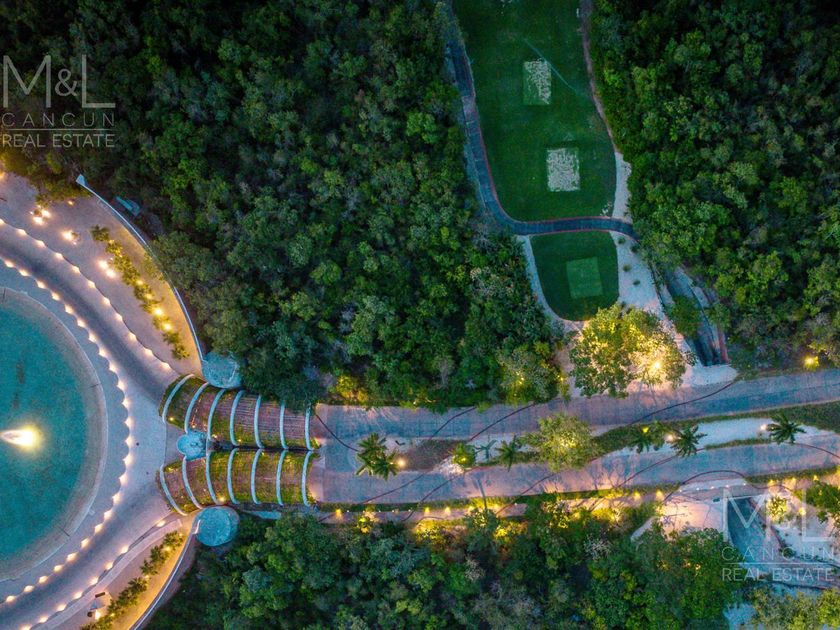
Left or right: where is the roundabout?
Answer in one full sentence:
The roundabout sits on the left side.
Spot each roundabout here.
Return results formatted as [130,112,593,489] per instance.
[0,222,171,630]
